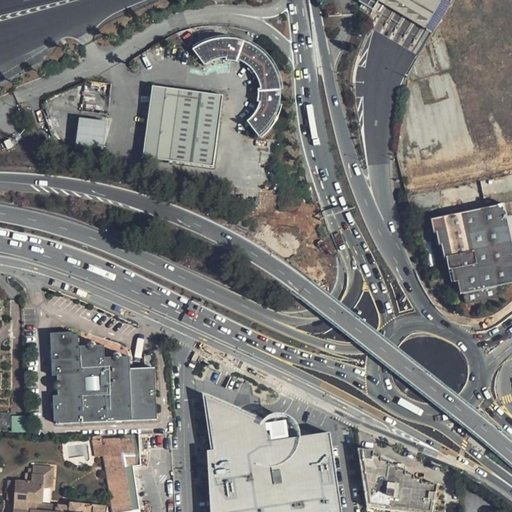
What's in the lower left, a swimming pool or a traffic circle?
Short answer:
swimming pool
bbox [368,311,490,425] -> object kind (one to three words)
roundabout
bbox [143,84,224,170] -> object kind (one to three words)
building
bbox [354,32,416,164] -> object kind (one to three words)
toll station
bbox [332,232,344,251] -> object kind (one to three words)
vehicle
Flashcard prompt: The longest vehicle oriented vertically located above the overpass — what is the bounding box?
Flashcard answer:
[306,104,320,146]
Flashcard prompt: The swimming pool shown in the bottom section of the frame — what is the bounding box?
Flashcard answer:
[62,440,94,466]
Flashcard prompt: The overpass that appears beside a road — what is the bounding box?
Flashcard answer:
[0,172,512,467]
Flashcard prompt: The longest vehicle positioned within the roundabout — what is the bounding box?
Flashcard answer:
[396,396,426,417]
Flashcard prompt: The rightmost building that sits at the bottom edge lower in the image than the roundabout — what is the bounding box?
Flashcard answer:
[356,447,436,512]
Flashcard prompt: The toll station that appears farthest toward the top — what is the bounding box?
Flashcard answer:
[363,0,452,76]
